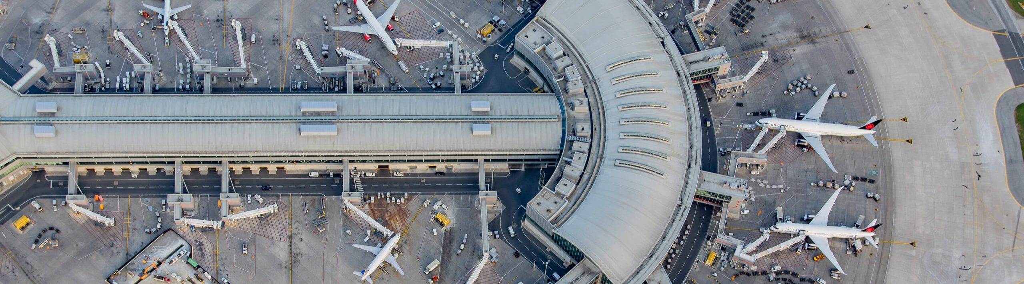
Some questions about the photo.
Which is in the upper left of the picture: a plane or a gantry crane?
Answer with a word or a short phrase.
plane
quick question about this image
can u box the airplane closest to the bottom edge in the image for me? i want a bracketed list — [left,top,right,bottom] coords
[353,234,404,284]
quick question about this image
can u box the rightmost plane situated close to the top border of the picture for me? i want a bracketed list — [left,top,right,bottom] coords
[333,0,402,55]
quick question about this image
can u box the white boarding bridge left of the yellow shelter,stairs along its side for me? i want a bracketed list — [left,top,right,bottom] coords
[43,35,62,66]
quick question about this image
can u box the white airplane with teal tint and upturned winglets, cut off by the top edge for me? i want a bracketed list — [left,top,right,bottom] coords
[142,0,191,35]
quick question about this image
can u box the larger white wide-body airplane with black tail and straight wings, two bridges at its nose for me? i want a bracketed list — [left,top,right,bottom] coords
[755,85,881,173]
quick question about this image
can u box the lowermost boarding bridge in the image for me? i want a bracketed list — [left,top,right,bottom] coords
[463,254,491,284]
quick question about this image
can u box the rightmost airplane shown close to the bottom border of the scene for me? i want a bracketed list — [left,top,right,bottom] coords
[770,186,882,277]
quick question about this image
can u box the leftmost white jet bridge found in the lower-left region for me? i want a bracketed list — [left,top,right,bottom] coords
[67,203,118,228]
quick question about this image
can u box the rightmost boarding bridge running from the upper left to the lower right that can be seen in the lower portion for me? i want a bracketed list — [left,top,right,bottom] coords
[343,200,396,239]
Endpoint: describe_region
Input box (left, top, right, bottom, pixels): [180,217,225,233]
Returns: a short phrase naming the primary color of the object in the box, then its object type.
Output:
white jet bridge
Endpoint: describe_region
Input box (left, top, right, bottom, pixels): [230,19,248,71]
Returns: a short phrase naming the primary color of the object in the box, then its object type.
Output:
white jet bridge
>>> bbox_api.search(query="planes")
[333,0,402,55]
[353,234,404,284]
[770,186,882,277]
[755,85,881,173]
[142,0,191,35]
